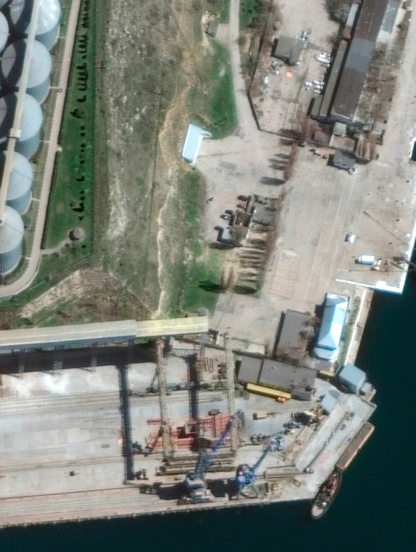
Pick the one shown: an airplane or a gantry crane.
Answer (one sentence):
It is a gantry crane that can be seen here.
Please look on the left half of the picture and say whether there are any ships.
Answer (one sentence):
No, no ship is visible on the left half of the picture.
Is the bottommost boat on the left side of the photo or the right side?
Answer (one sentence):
The bottommost boat sits on the right side.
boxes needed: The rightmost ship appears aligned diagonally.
[336,420,374,472]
